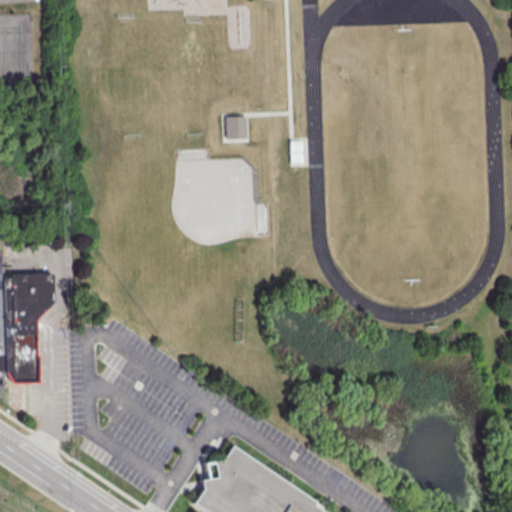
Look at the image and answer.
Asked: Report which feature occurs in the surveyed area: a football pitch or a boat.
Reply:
football pitch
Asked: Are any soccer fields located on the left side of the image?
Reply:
Yes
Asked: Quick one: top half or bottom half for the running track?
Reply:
top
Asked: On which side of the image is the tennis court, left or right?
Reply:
left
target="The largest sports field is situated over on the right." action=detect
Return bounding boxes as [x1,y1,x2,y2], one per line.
[323,24,489,309]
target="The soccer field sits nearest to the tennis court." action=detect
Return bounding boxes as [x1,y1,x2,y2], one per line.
[104,17,152,134]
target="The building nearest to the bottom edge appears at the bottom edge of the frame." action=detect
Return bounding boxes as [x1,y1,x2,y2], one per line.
[197,446,330,512]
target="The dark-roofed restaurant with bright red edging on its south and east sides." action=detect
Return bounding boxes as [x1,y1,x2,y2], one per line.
[6,272,54,382]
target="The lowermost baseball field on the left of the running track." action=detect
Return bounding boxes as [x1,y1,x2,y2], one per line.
[173,157,258,245]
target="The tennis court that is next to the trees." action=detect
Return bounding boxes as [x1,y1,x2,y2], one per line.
[0,14,32,78]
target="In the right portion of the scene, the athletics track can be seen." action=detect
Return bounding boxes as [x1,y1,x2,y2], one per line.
[303,0,504,324]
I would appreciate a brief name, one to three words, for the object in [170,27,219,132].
soccer field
